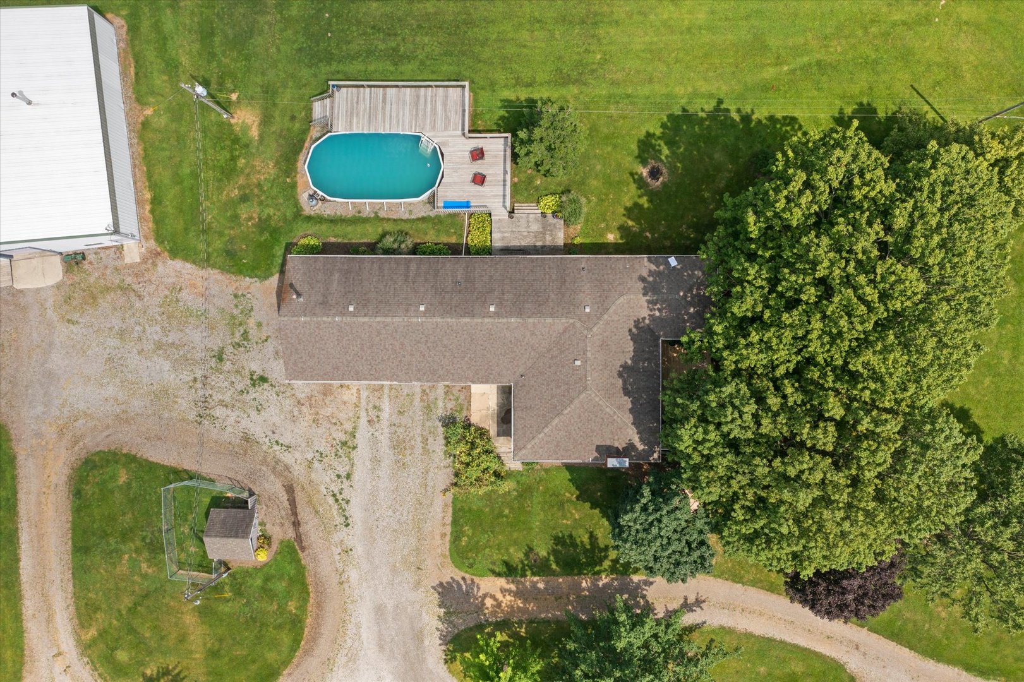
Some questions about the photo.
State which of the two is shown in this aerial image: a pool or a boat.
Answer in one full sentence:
Of the two, only a pool appears.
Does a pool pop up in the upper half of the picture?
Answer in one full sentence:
Yes, a pool appears in the upper half of the picture.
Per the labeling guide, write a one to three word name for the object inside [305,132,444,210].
swimming pool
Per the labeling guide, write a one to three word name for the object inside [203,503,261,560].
shed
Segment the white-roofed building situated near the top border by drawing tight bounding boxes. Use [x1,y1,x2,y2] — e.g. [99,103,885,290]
[0,0,141,259]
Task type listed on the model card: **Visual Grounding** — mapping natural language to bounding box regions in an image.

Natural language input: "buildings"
[280,254,719,469]
[0,0,141,259]
[203,503,261,560]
